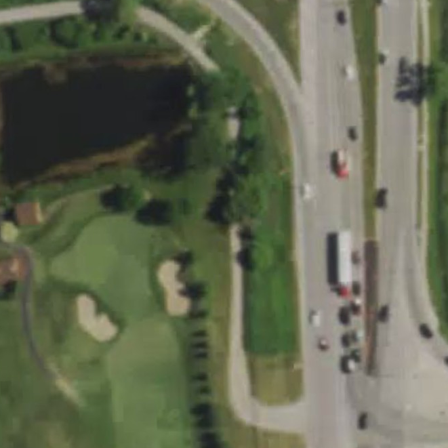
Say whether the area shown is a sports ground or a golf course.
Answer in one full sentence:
What you see here is a golf course.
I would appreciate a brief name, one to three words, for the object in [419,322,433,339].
vehicle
